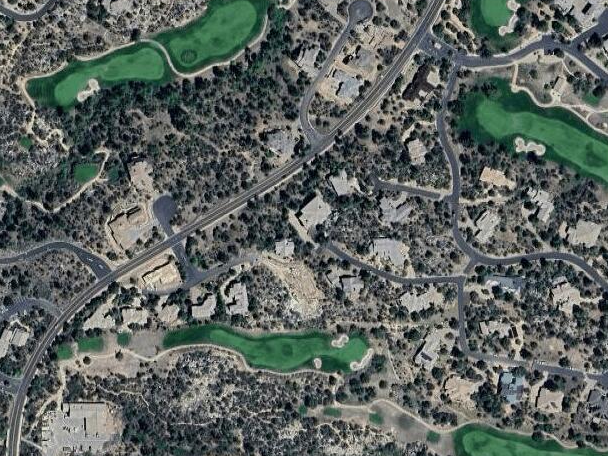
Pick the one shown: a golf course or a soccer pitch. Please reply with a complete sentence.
Looking from above, you can make out a golf course.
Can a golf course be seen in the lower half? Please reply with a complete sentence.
Yes, a golf course appears in the lower half.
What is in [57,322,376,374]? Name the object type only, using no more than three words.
golf course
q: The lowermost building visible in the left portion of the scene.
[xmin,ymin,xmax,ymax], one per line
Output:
[63,402,109,437]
